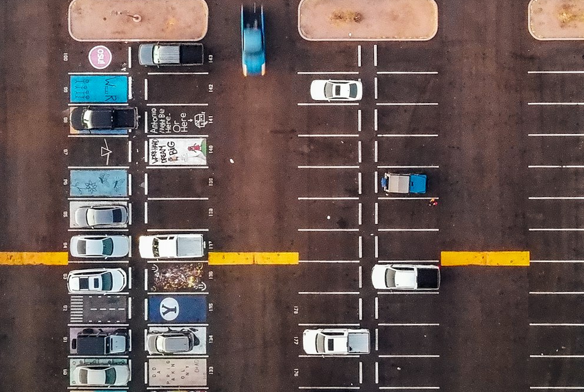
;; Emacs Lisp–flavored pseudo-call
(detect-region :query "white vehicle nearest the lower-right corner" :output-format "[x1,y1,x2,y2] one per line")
[372,264,441,294]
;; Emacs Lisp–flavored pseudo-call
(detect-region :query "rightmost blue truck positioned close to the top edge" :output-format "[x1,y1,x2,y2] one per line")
[240,6,267,75]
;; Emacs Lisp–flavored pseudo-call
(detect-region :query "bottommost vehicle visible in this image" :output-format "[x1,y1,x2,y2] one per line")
[73,362,131,390]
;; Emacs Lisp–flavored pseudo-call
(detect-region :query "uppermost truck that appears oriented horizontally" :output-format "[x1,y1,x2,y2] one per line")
[138,41,205,68]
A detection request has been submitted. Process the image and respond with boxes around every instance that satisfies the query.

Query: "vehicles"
[76,204,131,231]
[71,105,139,134]
[72,329,131,358]
[139,234,206,263]
[372,264,441,294]
[138,41,205,68]
[148,331,197,359]
[379,172,426,198]
[71,235,131,261]
[303,328,371,359]
[240,6,267,75]
[311,78,362,103]
[73,362,131,390]
[67,268,127,295]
